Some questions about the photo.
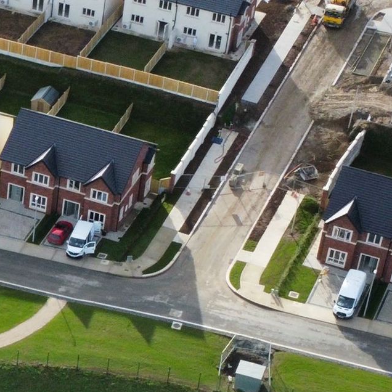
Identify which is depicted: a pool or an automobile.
automobile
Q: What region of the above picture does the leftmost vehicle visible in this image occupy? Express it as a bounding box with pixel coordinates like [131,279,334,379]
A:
[49,219,76,244]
